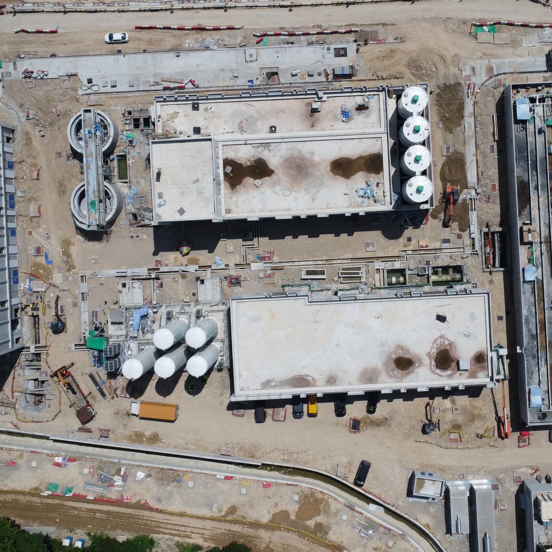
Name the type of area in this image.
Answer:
industrial area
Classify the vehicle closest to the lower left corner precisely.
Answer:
truck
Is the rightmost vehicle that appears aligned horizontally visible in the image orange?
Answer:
Yes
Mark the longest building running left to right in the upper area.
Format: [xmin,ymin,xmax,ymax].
[150,86,433,225]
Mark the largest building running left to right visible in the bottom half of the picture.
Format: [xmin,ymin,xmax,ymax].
[231,281,509,401]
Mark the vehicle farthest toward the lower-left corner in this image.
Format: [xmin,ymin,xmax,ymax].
[44,362,97,424]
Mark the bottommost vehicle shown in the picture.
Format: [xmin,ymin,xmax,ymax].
[353,457,371,486]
